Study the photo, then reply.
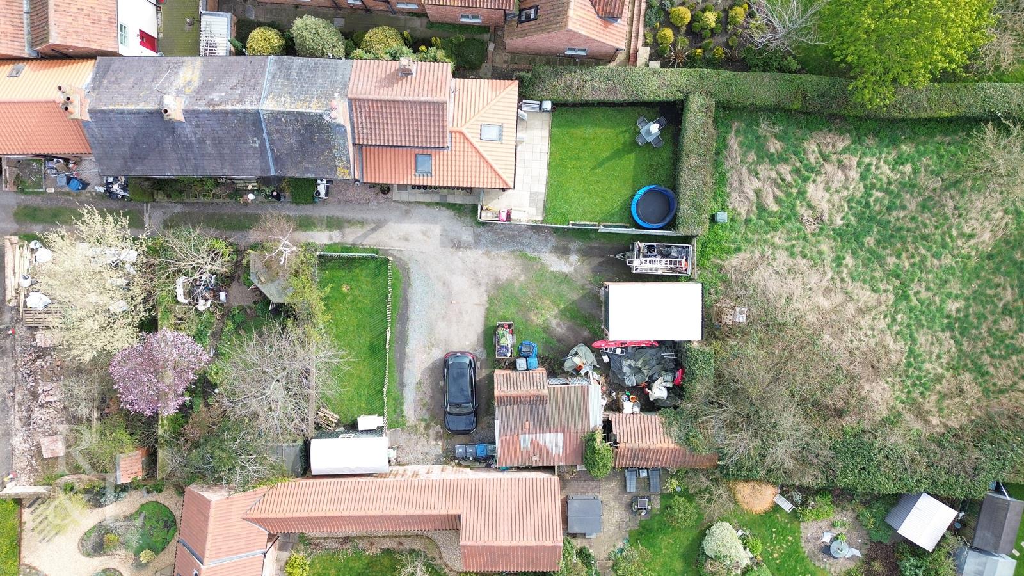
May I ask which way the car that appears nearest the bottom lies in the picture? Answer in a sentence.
From this overhead view, the car that appears nearest the bottom appears to run up and down.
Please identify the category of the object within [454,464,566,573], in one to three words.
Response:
shed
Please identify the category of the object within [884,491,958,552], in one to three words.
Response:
shed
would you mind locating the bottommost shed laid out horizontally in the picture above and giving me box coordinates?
[947,544,1017,576]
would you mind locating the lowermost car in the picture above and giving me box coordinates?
[438,353,481,436]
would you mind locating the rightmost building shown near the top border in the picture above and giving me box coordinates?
[503,0,626,62]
